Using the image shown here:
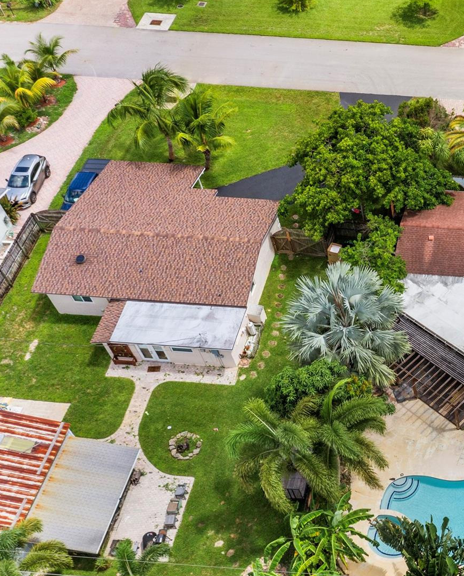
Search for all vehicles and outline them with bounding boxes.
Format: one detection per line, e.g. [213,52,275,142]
[2,153,50,209]
[66,152,121,213]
